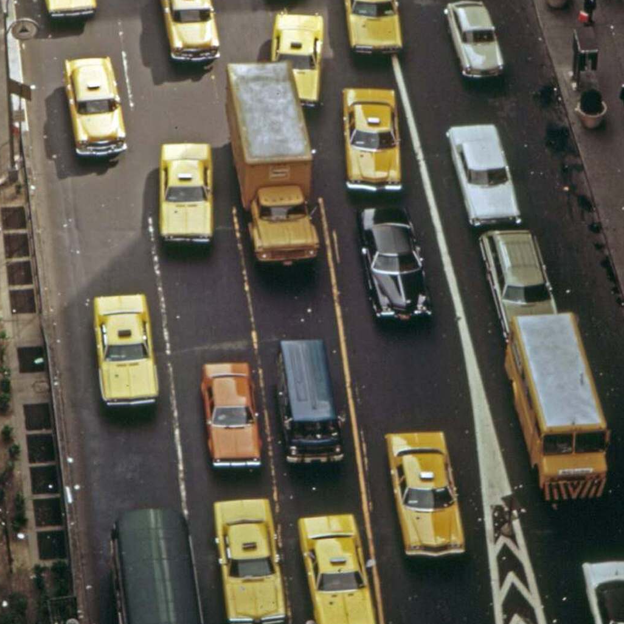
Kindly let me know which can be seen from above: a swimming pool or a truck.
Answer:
truck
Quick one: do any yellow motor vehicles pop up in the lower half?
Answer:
Yes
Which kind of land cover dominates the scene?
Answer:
paved ground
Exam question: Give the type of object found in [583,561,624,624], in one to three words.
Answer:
car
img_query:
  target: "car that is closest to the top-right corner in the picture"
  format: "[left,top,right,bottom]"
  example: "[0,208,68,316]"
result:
[443,0,505,78]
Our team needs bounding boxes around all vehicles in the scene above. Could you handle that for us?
[447,123,521,225]
[358,209,429,323]
[47,0,97,18]
[478,238,554,357]
[63,59,127,157]
[157,142,214,241]
[227,61,318,269]
[583,561,624,624]
[343,91,401,194]
[384,429,465,556]
[443,0,505,78]
[118,513,204,624]
[211,495,287,624]
[199,361,264,467]
[92,294,159,406]
[271,14,322,105]
[506,314,609,510]
[296,510,375,624]
[162,0,220,61]
[276,335,348,466]
[346,0,401,53]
